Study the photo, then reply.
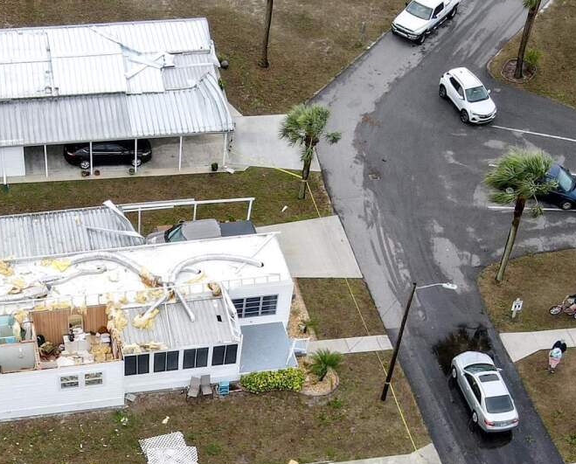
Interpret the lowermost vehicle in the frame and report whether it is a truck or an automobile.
automobile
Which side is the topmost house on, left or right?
left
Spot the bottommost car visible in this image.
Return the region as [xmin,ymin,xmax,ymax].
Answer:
[447,352,522,438]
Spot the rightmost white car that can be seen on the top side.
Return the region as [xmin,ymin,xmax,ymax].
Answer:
[431,64,499,126]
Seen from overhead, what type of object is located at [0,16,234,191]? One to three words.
house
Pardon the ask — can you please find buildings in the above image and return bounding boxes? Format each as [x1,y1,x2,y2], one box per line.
[0,16,234,191]
[0,197,319,420]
